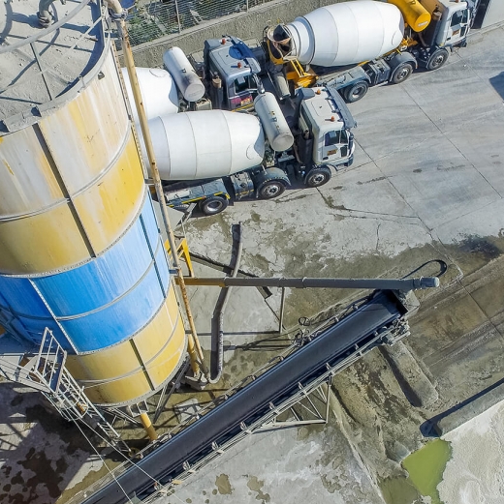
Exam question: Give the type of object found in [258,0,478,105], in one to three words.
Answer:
truck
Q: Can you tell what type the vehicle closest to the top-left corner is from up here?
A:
truck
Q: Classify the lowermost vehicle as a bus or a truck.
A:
truck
